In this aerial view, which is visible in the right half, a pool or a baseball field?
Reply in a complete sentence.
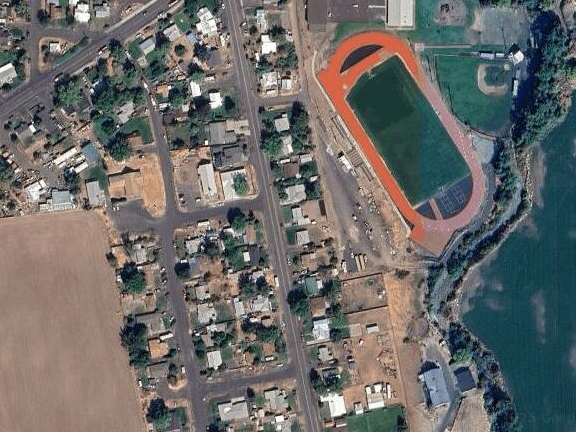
Looking in the right half, you will find a baseball field.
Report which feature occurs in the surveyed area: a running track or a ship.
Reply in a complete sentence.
The one in the frame is a running track.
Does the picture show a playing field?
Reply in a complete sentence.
Yes, a playing field can be made out from above.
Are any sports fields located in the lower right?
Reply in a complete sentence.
No, in the lower right there is no sports field.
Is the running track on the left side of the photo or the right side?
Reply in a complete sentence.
The running track sits on the right side.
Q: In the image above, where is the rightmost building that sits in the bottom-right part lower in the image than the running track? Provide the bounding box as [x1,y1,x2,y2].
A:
[456,367,477,393]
